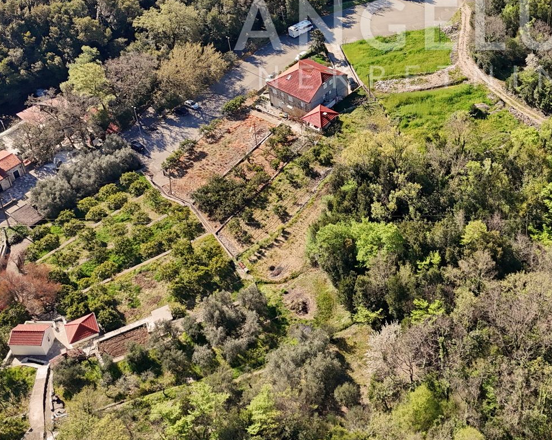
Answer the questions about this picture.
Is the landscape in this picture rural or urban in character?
rural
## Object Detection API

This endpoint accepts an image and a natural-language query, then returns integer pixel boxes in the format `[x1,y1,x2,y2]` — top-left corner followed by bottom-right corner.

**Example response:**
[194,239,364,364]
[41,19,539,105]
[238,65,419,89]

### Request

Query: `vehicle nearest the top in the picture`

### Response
[287,21,314,39]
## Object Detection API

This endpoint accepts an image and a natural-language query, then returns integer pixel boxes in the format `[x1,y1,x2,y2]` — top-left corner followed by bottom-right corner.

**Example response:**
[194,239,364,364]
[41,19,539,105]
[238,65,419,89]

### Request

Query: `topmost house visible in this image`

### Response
[265,54,339,117]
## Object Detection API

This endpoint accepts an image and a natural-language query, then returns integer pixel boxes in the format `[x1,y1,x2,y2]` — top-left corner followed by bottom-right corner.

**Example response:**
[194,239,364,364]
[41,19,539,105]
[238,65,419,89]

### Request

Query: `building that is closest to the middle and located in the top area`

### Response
[299,108,340,140]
